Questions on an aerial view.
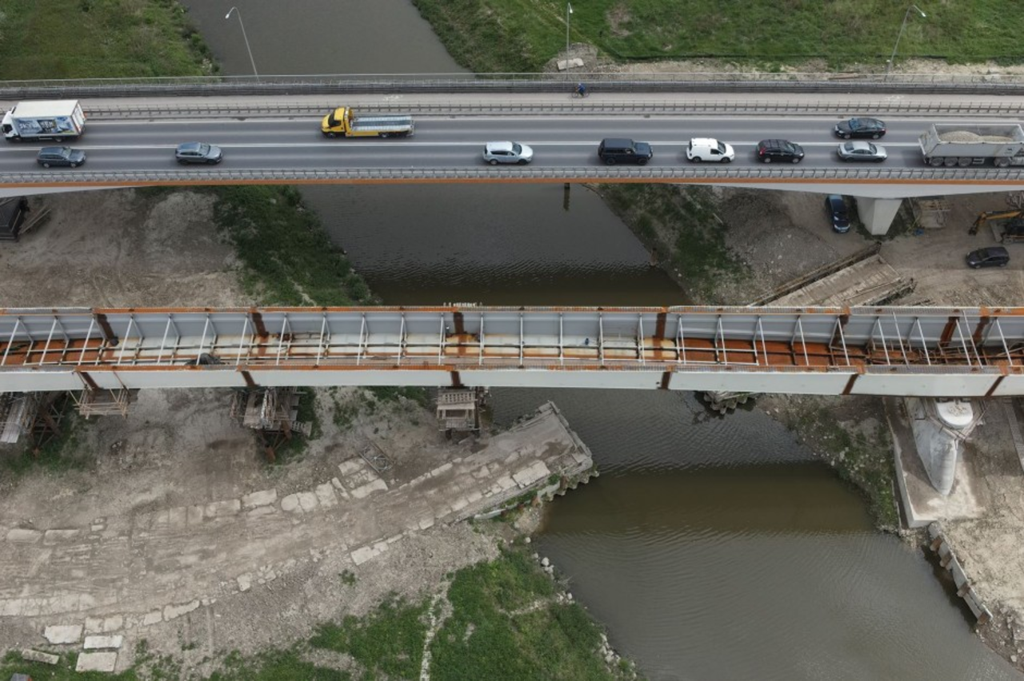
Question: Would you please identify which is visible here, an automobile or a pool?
automobile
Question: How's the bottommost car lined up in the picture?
horizontally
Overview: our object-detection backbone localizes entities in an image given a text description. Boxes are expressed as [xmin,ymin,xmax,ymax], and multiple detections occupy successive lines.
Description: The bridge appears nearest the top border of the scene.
[0,91,1024,234]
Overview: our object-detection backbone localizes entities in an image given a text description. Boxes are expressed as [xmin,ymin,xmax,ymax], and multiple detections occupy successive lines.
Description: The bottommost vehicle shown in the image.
[966,245,1016,268]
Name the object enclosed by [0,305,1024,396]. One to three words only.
bridge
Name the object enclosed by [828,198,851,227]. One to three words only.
car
